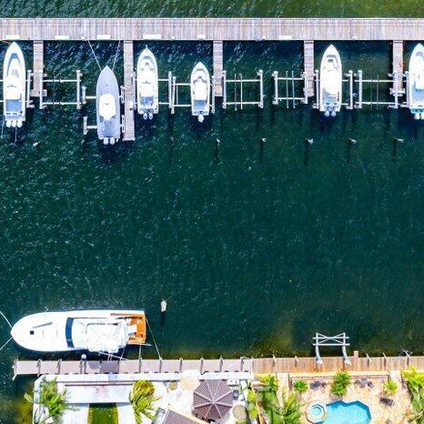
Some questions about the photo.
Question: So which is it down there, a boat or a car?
boat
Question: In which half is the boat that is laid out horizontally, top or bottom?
bottom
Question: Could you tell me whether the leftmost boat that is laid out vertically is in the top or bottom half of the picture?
top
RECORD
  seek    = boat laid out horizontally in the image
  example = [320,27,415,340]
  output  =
[0,309,161,366]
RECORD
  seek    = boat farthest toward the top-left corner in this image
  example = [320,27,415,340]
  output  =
[1,40,26,128]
